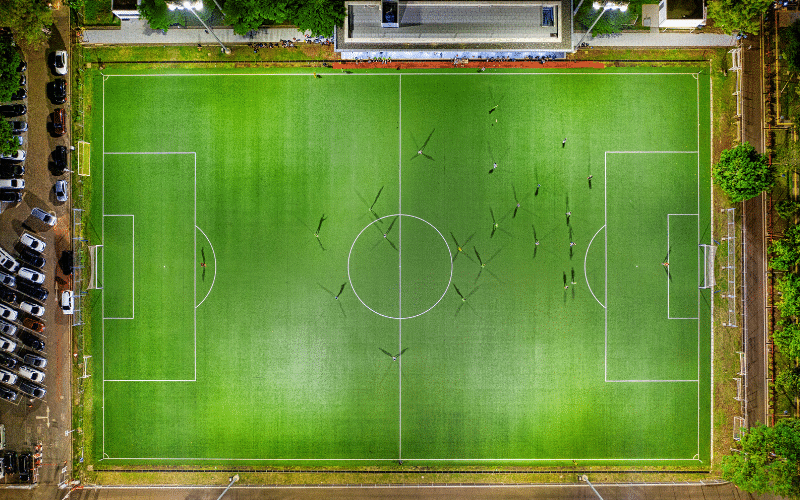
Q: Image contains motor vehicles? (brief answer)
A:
Yes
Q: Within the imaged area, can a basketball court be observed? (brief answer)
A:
No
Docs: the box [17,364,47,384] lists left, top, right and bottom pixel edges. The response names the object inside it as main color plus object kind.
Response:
white car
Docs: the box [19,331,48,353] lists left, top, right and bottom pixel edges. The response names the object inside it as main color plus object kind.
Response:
black car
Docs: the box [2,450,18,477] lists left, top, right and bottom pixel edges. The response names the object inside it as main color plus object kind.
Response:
black car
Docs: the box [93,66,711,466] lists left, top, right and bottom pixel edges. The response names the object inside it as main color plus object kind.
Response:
green soccer field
